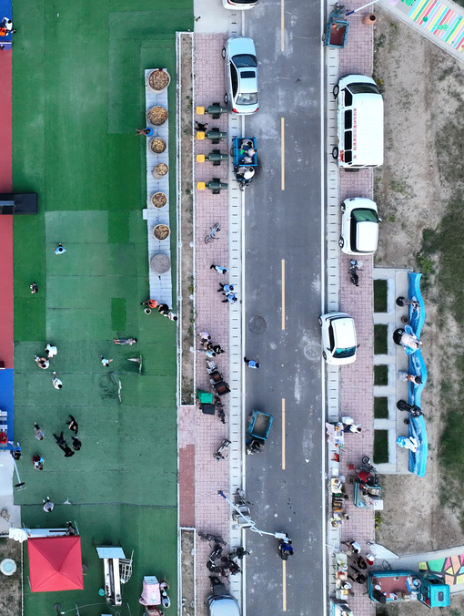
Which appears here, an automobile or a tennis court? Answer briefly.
automobile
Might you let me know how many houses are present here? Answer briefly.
none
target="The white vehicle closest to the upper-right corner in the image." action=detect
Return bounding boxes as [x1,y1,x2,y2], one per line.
[336,76,390,171]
